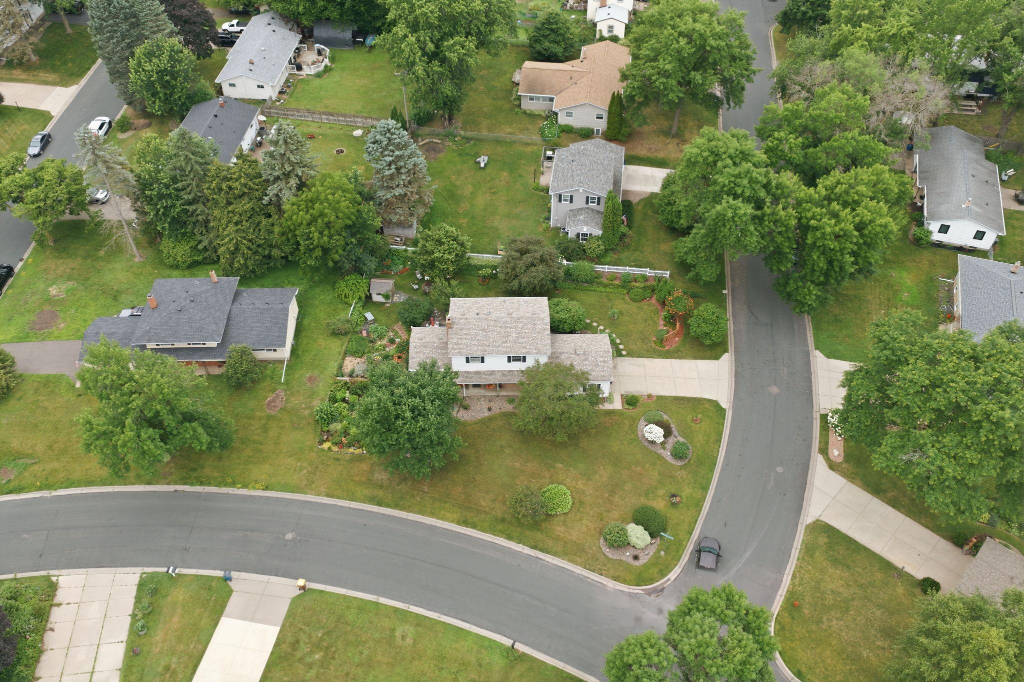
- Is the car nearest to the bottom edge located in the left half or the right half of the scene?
right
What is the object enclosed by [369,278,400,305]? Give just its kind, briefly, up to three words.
shed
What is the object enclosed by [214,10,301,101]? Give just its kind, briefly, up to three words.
house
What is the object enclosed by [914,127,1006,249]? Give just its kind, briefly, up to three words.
house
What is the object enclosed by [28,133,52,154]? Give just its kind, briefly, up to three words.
car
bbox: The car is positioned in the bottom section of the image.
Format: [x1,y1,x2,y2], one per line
[696,535,723,575]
